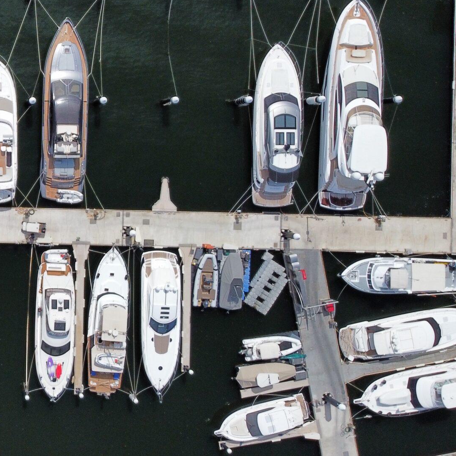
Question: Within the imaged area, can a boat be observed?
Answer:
Yes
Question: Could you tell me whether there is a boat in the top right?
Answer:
Yes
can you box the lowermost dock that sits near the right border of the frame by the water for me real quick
[284,250,456,456]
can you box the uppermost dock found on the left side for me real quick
[150,178,177,212]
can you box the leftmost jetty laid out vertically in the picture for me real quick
[72,240,91,395]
